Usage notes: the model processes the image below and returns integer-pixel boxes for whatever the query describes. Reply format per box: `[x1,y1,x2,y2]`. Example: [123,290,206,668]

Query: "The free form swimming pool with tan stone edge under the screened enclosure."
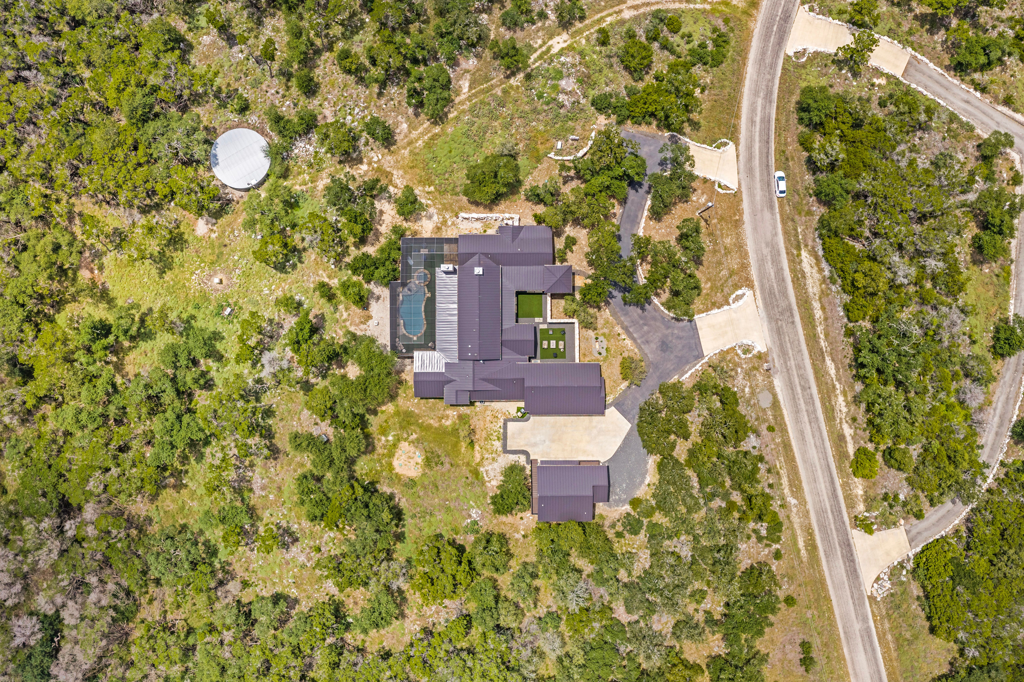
[399,283,428,337]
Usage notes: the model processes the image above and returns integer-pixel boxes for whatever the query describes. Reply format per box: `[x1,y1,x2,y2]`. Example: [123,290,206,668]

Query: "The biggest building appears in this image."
[413,225,605,415]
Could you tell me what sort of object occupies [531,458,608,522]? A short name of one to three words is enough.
shed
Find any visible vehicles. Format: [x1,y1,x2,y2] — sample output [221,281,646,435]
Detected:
[773,171,787,198]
